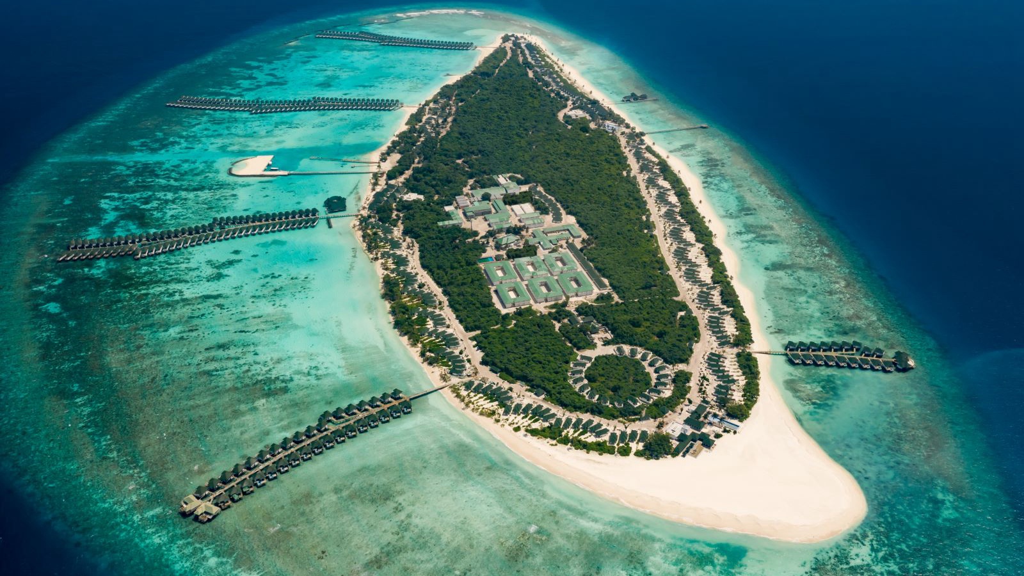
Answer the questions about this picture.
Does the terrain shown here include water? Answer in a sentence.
Yes, there's water in this view.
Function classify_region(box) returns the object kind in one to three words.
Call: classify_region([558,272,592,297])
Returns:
building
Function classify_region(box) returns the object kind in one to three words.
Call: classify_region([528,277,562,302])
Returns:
building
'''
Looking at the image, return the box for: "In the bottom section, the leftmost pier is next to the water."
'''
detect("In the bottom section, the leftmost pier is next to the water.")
[203,381,450,501]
